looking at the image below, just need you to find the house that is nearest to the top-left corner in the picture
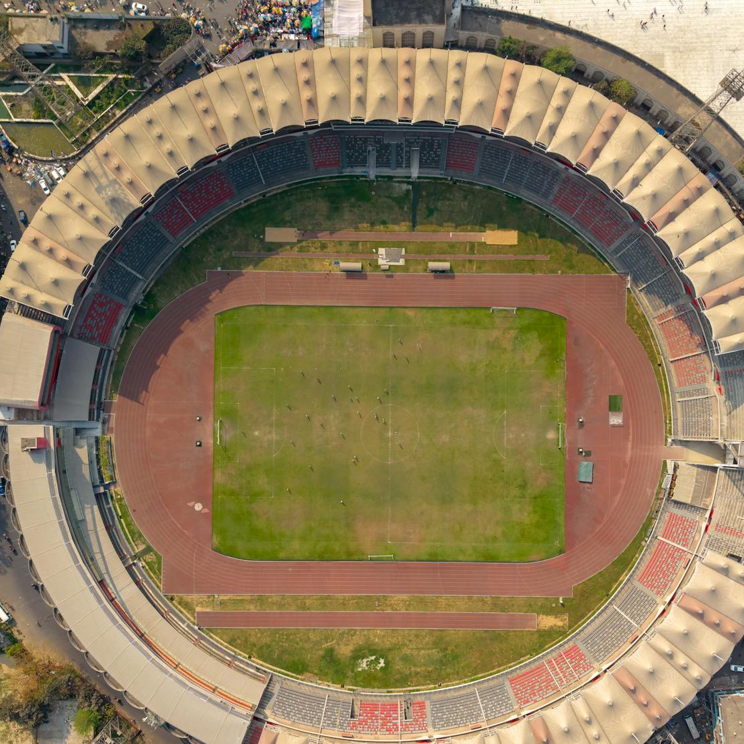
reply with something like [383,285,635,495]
[9,18,71,59]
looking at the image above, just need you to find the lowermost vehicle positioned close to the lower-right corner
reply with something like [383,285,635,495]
[681,712,700,739]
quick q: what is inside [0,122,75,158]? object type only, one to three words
pond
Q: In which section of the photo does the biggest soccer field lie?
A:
center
